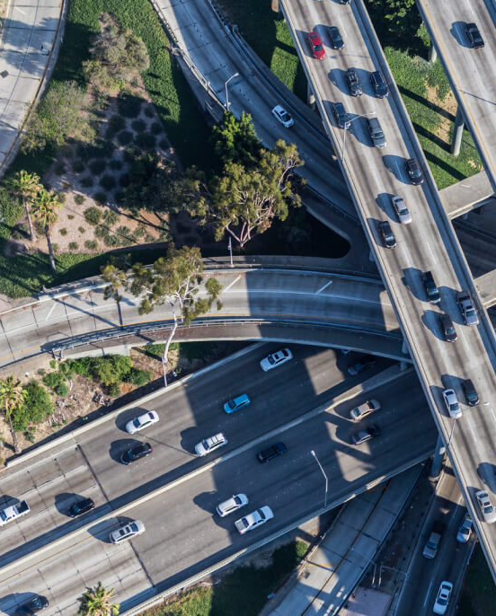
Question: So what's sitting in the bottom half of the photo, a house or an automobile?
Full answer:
What appears in the bottom half of the photo is an automobile.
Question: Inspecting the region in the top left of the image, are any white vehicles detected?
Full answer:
No, the scene shows no white vehicle in the top left of the image.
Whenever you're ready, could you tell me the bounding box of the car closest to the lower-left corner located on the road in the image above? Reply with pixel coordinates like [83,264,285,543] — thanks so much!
[14,595,49,616]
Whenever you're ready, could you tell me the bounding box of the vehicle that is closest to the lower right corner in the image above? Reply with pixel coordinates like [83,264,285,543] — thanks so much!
[434,582,452,615]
